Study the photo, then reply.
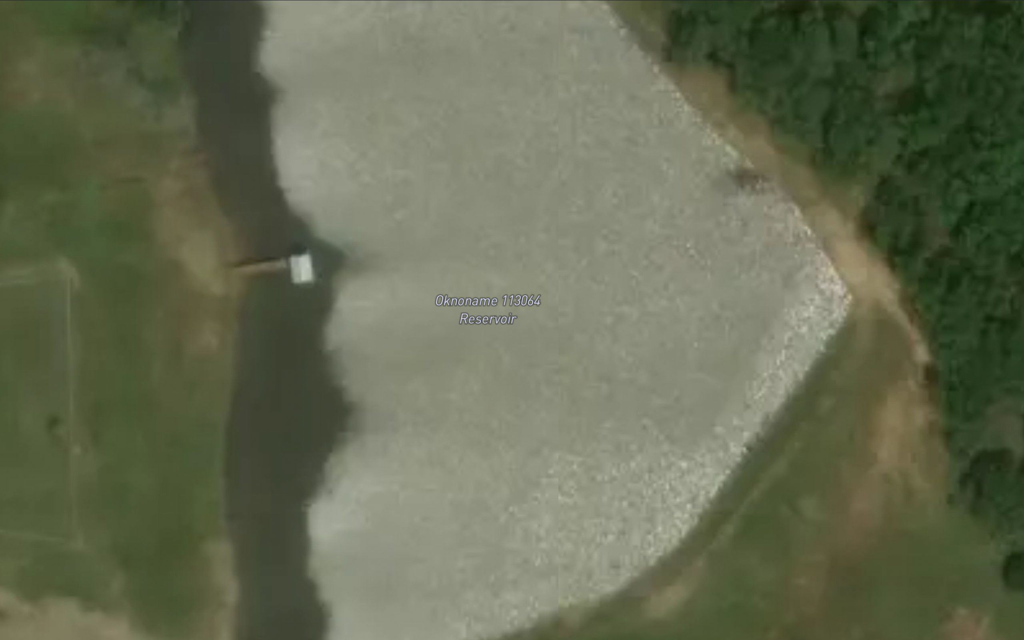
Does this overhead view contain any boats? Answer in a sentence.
No, the picture doesn't show any boat.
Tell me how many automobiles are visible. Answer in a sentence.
I count no automobiles.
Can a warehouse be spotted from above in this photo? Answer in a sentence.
No, there is no warehouse in the image.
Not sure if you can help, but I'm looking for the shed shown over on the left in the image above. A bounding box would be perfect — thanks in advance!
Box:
[291,253,311,282]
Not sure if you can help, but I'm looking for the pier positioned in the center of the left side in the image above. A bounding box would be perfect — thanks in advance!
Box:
[235,259,287,274]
